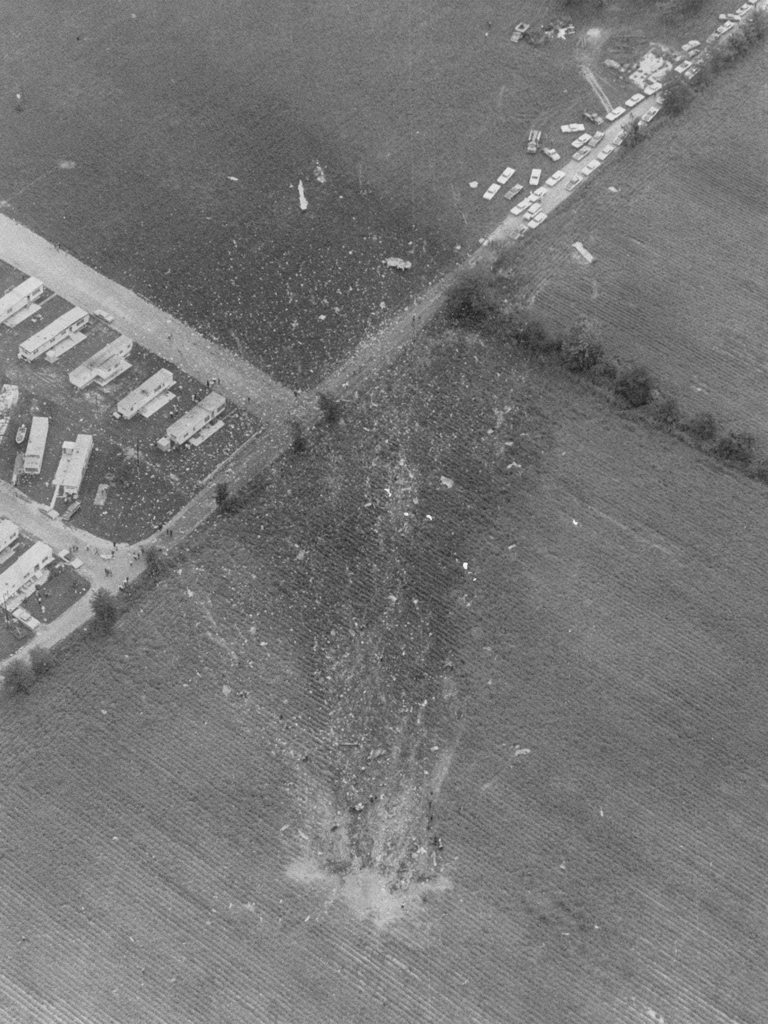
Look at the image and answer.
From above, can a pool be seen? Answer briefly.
No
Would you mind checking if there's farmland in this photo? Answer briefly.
Yes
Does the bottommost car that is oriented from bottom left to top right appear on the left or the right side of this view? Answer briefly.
left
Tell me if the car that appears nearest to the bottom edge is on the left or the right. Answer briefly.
left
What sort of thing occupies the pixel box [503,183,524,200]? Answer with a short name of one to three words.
car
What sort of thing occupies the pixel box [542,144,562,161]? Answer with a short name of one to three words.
vehicle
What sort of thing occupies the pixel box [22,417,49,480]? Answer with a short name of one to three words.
house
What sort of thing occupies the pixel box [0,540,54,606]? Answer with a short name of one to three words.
house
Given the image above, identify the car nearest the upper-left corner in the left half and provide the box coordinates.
[91,308,116,324]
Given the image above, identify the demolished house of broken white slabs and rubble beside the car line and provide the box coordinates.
[599,30,697,96]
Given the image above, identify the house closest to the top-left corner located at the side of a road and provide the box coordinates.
[0,276,45,322]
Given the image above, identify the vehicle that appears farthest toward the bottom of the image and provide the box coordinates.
[11,607,41,628]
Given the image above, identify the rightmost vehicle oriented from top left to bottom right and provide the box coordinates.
[583,108,606,126]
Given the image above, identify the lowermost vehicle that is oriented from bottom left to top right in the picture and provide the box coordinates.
[60,499,83,523]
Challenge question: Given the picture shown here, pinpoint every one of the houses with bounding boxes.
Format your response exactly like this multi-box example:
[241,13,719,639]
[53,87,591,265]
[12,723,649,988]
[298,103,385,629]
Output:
[0,276,45,322]
[22,417,49,480]
[20,306,89,361]
[0,540,54,606]
[0,519,20,553]
[0,385,25,435]
[70,334,133,388]
[53,434,94,500]
[167,391,227,445]
[115,366,174,421]
[599,30,697,96]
